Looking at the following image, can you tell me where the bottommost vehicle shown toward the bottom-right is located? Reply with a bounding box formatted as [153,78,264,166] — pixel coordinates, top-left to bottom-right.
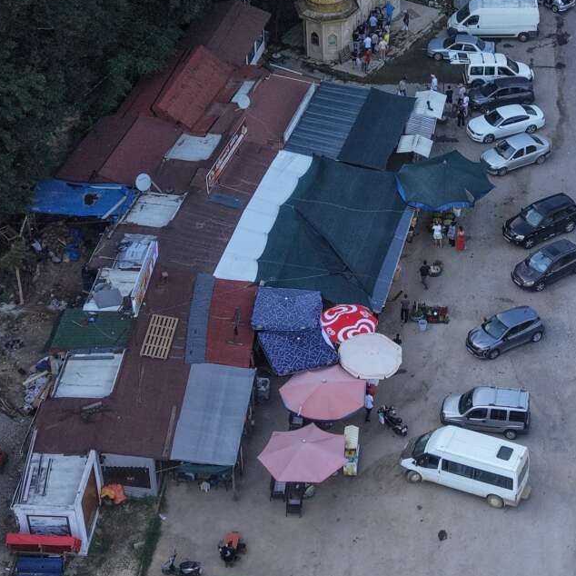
[396,421,535,509]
